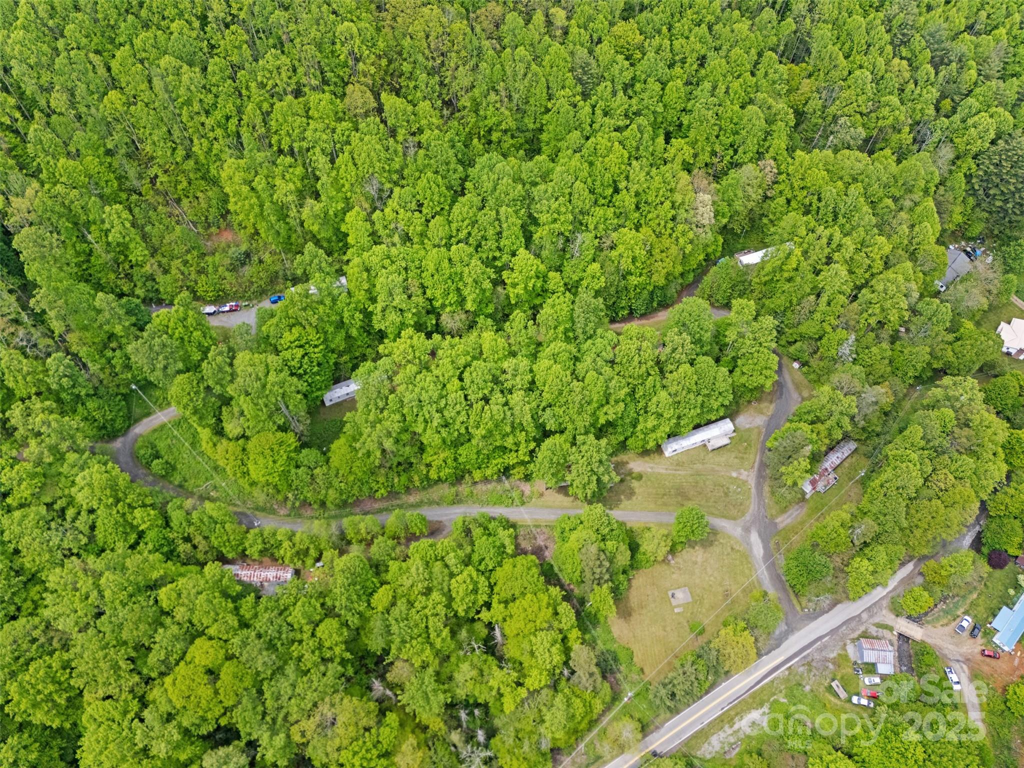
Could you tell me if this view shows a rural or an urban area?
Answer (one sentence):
The area shown here is rural.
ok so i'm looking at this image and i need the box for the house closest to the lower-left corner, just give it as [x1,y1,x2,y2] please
[223,563,298,600]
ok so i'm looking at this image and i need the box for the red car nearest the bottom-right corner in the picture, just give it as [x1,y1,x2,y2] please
[979,648,1002,662]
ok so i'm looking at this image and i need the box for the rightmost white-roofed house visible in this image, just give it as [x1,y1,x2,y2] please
[981,314,1024,365]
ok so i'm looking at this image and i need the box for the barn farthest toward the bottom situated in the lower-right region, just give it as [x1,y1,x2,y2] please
[853,636,894,681]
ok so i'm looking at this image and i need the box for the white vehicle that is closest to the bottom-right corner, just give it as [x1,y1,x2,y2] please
[944,664,962,694]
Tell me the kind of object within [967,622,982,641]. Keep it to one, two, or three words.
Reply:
car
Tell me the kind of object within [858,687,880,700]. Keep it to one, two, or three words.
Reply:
vehicle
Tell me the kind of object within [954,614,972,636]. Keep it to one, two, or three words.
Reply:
vehicle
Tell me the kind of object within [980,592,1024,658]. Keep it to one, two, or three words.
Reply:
house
